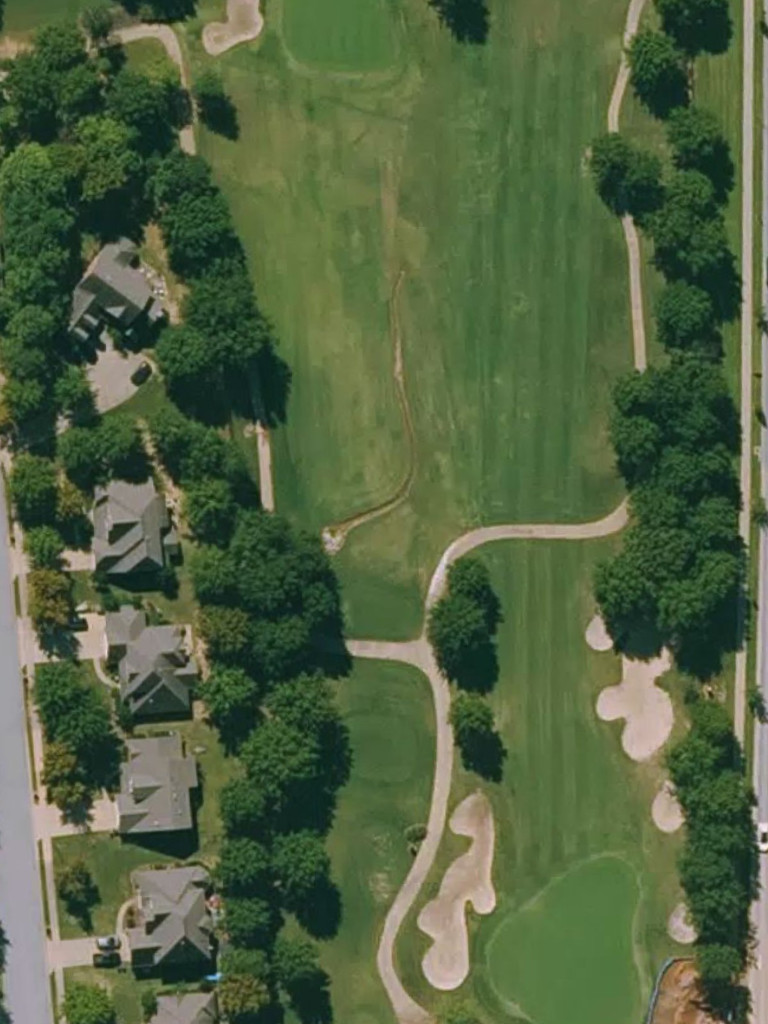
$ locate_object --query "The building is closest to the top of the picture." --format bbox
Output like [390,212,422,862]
[54,241,164,342]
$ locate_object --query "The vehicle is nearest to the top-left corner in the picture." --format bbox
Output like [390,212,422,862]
[130,362,152,386]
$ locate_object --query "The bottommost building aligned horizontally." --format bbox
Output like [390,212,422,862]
[146,993,217,1024]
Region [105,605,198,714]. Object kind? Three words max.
house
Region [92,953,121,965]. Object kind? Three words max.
vehicle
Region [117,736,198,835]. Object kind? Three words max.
house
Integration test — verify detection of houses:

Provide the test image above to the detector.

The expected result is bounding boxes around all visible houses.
[54,241,164,342]
[92,478,169,574]
[105,605,198,714]
[117,736,198,835]
[146,993,217,1024]
[128,866,213,967]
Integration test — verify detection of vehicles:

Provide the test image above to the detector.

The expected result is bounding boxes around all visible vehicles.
[130,362,152,386]
[66,618,90,629]
[96,937,121,948]
[92,953,121,965]
[759,823,768,851]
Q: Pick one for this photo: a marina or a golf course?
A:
golf course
